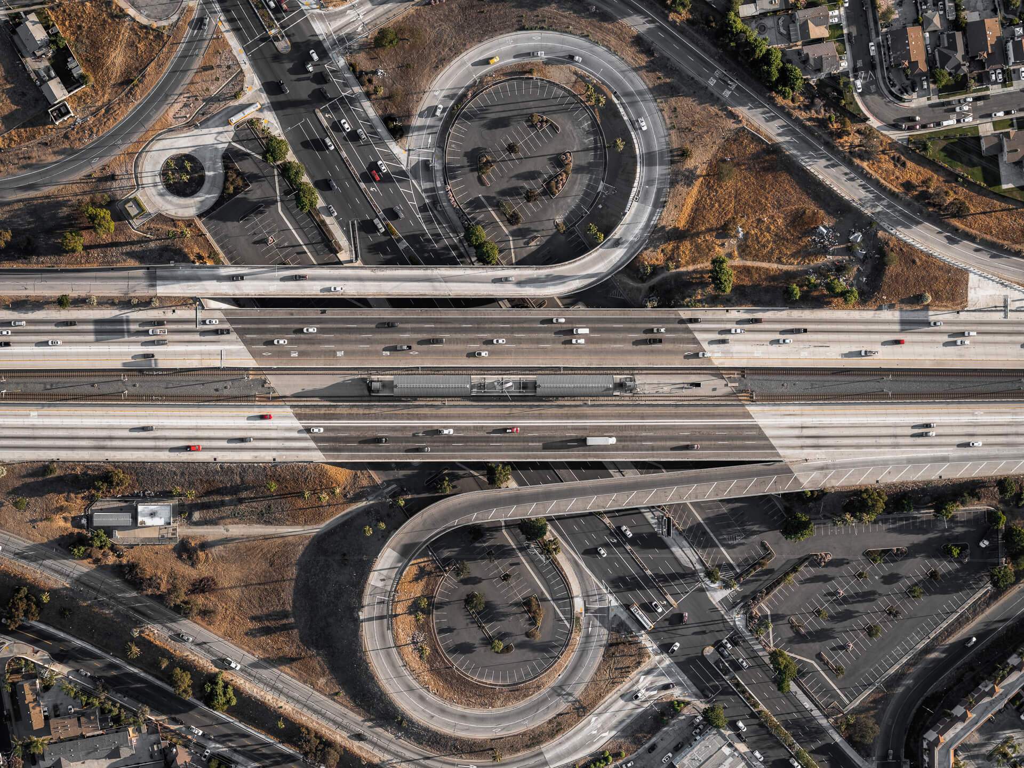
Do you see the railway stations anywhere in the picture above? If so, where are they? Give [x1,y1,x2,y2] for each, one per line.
[369,375,636,400]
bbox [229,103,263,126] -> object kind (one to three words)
bus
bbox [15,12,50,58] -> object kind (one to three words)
house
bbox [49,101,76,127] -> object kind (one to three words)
shed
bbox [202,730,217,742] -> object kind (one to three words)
vehicle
